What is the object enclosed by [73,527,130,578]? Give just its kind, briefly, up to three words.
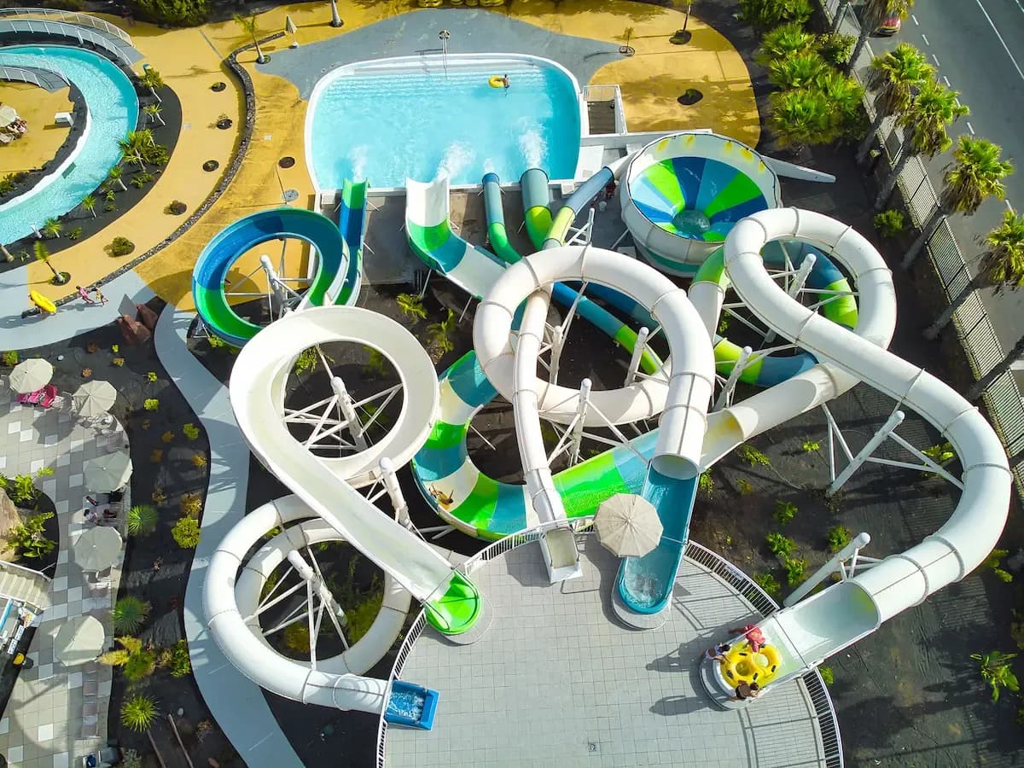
umbrella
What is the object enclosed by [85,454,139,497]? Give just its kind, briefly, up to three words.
umbrella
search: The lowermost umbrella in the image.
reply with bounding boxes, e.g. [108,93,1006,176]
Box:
[54,615,114,672]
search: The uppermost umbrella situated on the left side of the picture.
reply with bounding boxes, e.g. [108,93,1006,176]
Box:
[286,18,298,49]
